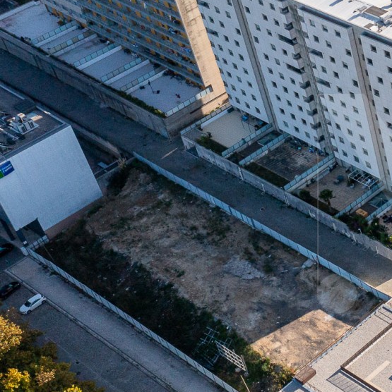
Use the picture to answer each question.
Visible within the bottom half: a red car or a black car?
black car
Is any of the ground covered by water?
No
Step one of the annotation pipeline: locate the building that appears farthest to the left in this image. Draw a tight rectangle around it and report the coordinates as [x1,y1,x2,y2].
[0,85,104,248]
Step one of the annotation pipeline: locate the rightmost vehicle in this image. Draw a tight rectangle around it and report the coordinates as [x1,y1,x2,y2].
[21,294,46,315]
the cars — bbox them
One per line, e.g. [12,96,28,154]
[0,279,27,301]
[21,294,46,315]
[0,241,22,257]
